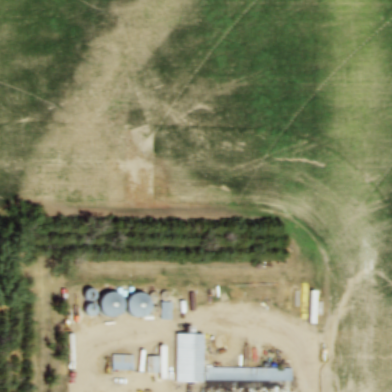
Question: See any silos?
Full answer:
Yes, the photo shows a silo.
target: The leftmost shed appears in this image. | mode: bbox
[112,354,136,370]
